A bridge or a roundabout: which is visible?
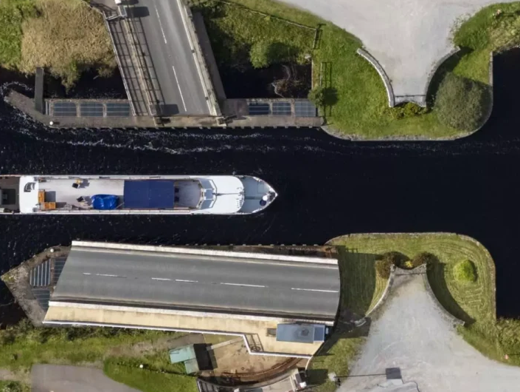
bridge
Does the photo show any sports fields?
No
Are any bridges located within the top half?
Yes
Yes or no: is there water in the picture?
Yes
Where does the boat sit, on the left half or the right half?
left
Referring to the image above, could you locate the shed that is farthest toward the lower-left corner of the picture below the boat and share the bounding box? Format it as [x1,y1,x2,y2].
[170,342,202,372]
